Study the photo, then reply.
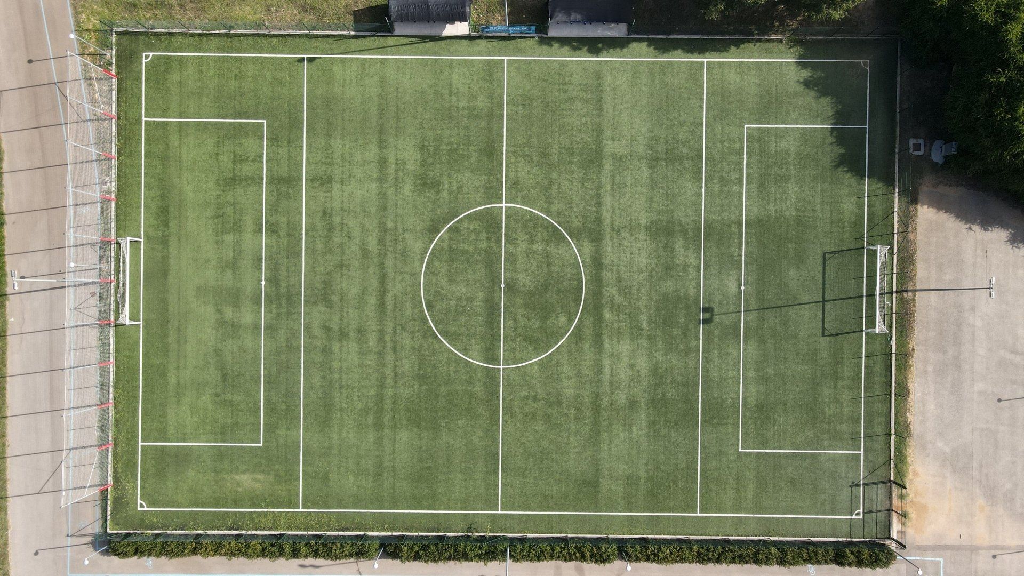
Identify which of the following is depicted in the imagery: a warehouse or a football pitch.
football pitch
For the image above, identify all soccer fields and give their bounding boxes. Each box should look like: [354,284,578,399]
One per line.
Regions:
[110,31,898,536]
